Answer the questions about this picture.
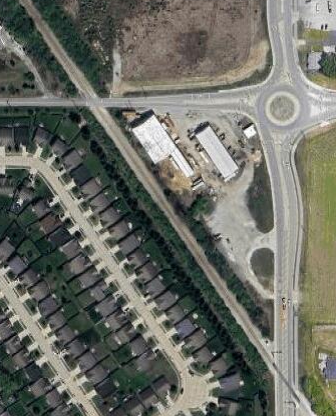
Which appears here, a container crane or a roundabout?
roundabout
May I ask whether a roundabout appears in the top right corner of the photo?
Yes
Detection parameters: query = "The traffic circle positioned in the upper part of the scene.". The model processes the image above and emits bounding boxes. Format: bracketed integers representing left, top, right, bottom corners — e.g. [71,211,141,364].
[220,61,327,158]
